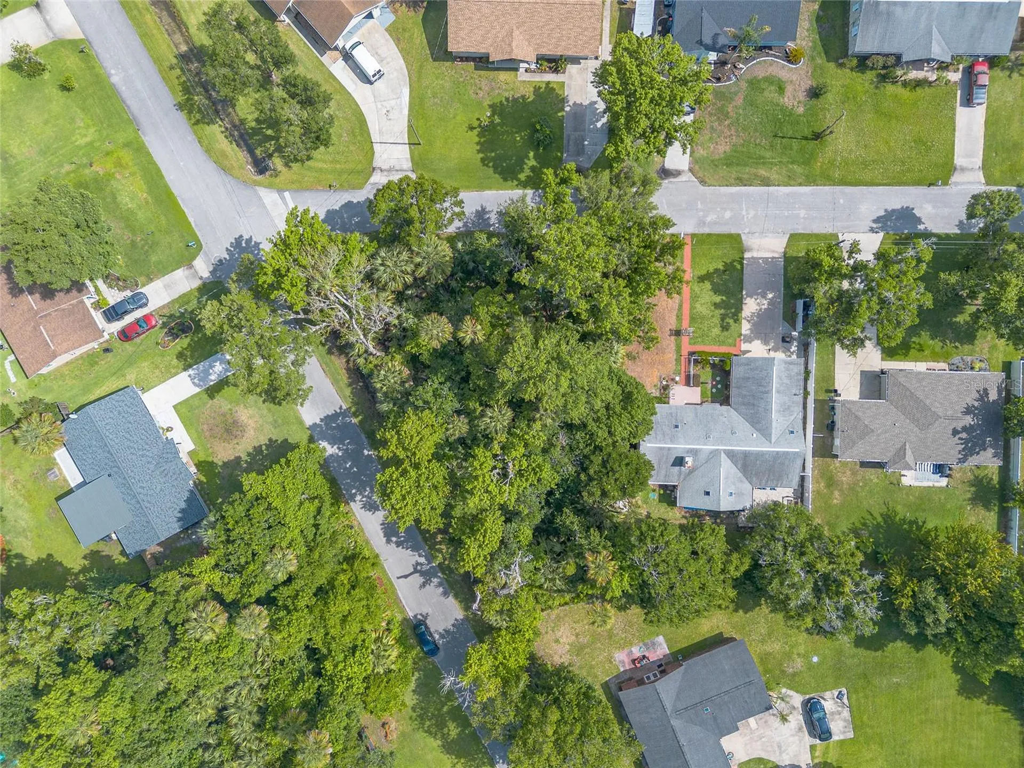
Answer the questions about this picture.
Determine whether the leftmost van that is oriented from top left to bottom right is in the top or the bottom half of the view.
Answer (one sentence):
Seen from above, the leftmost van that is oriented from top left to bottom right lies in the top half of the view.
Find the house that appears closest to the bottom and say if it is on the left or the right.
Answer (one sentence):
The house that appears closest to the bottom is on the right side of the image.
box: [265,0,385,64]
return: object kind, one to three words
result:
house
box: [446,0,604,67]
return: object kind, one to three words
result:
house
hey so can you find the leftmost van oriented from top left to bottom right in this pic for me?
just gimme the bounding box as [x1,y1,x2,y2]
[344,40,387,90]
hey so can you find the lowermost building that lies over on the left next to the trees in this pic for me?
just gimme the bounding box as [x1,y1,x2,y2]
[58,385,212,558]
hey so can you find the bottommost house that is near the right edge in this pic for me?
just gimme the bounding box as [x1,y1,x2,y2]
[831,370,1005,473]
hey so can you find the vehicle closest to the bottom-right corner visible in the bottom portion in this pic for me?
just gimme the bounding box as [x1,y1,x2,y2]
[802,694,835,744]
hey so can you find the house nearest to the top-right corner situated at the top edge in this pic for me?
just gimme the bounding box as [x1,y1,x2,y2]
[848,0,1020,72]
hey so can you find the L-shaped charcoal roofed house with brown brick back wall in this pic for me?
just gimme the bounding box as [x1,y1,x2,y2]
[619,636,772,768]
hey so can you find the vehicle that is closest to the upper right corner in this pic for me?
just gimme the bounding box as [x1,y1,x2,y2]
[964,61,992,108]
